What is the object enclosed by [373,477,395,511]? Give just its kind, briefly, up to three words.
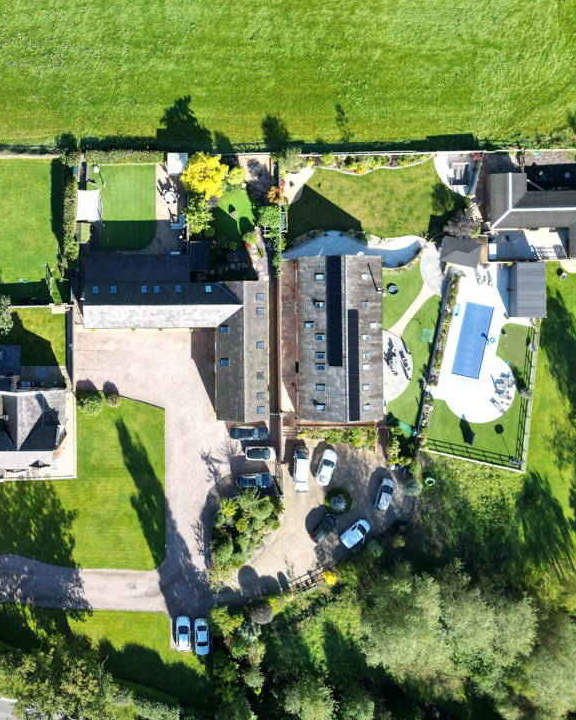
car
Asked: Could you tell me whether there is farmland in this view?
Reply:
Yes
